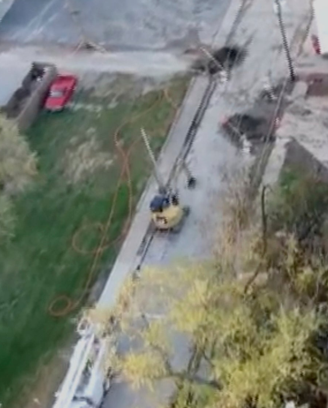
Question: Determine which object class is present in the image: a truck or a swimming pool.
truck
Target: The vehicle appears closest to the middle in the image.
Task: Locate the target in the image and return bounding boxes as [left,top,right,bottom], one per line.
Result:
[140,152,213,241]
